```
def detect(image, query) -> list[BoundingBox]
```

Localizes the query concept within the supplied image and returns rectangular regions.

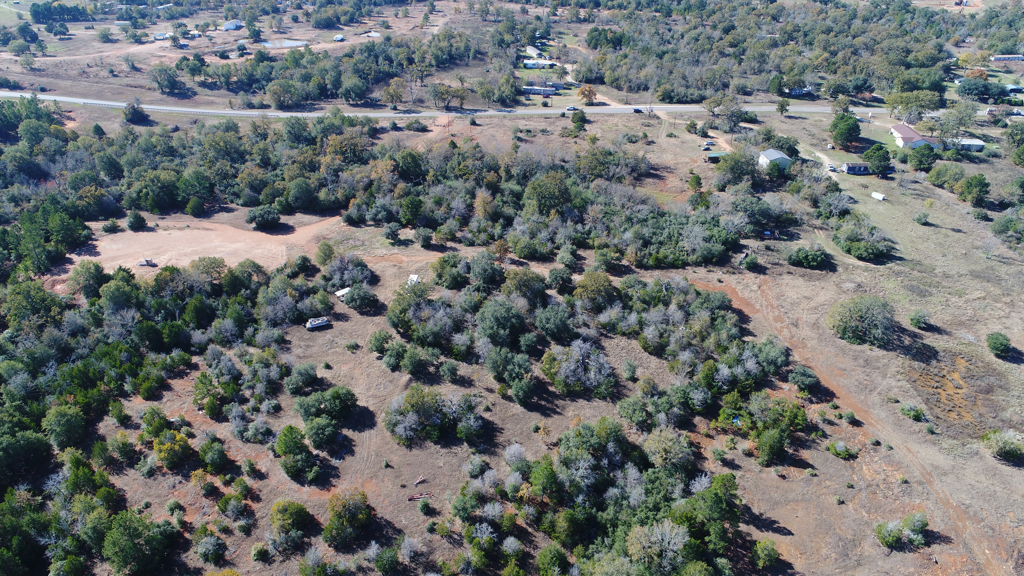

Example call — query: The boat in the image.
[301,313,335,326]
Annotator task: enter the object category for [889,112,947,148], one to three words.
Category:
building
